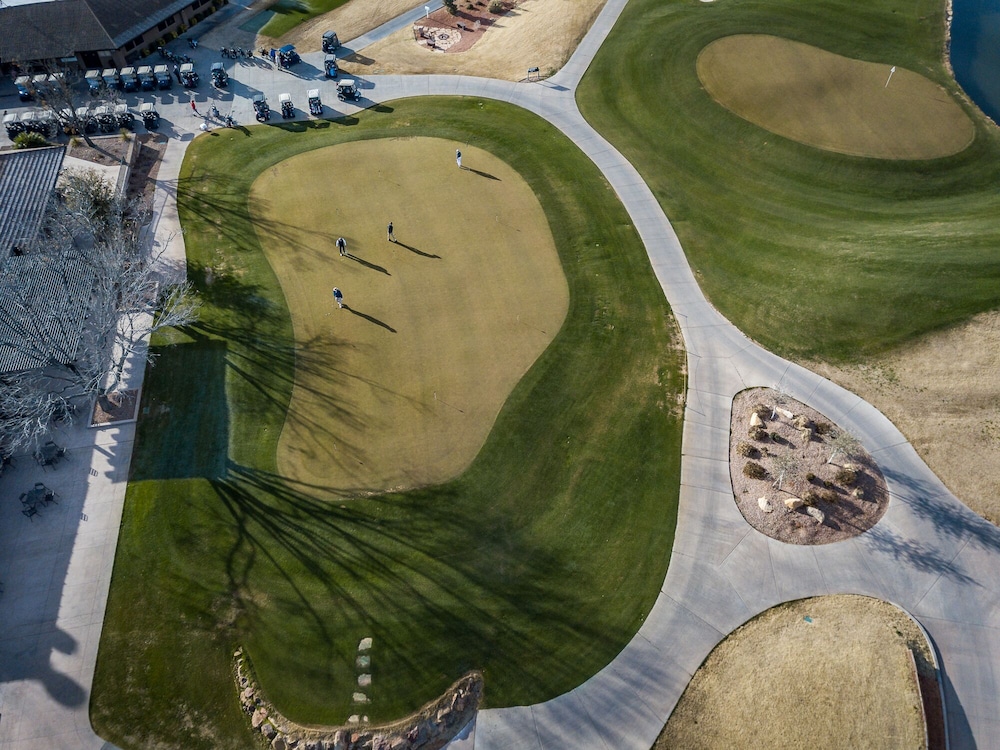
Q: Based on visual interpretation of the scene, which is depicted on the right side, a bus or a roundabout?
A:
roundabout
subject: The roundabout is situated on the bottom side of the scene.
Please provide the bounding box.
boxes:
[729,386,890,545]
